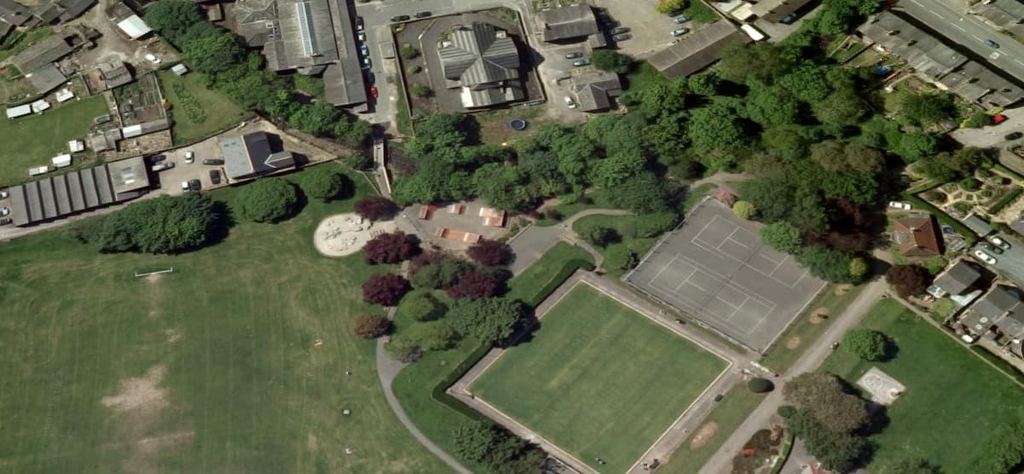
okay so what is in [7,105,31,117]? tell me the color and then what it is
white vehicle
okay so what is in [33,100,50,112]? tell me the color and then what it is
white vehicle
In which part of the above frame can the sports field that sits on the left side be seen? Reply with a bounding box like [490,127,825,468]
[0,164,468,474]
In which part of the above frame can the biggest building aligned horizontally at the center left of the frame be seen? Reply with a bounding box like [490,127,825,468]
[9,164,116,227]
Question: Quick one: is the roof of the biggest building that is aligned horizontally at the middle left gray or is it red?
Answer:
gray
